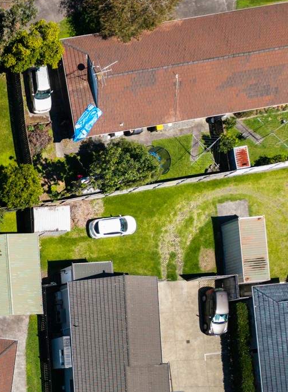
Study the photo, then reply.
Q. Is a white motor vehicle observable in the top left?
Yes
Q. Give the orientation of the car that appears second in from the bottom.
from left to right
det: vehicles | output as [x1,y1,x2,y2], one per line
[85,213,135,240]
[27,65,56,116]
[201,288,230,336]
